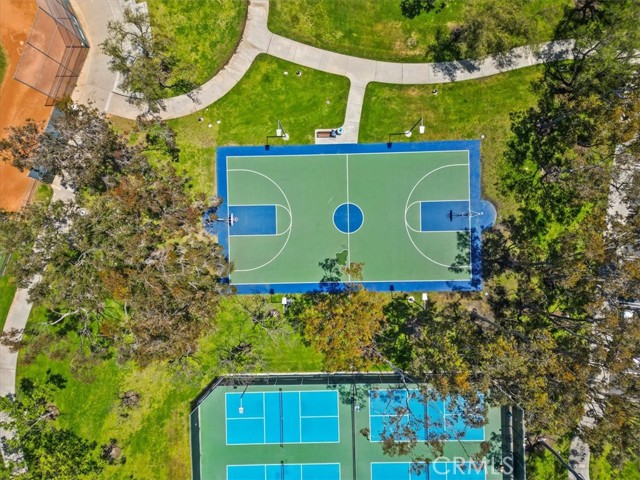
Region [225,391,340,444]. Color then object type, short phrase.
blue sports court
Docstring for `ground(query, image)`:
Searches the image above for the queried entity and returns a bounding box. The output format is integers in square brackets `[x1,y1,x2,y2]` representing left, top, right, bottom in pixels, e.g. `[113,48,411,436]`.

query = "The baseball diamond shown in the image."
[0,0,91,213]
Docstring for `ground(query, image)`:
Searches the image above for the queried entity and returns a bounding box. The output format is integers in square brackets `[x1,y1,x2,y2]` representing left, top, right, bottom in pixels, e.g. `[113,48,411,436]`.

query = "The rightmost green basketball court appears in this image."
[202,141,498,295]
